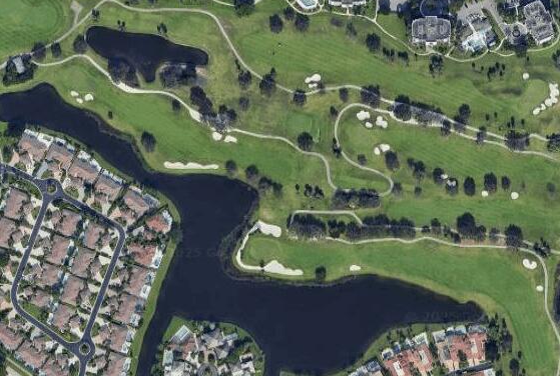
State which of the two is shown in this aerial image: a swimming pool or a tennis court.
swimming pool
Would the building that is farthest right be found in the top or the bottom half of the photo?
top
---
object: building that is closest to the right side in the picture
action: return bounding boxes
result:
[523,3,558,45]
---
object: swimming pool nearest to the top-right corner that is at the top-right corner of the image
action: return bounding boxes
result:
[463,32,491,57]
